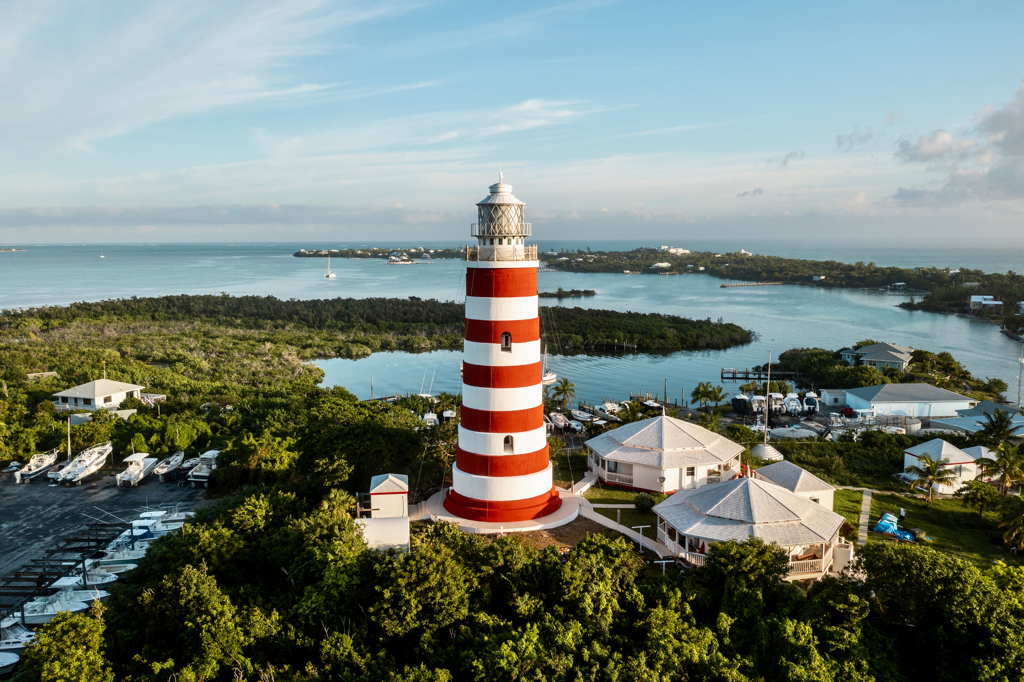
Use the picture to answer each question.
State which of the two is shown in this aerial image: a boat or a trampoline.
boat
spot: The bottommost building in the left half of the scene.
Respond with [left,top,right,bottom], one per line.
[371,471,414,522]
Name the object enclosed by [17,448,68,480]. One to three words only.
boat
